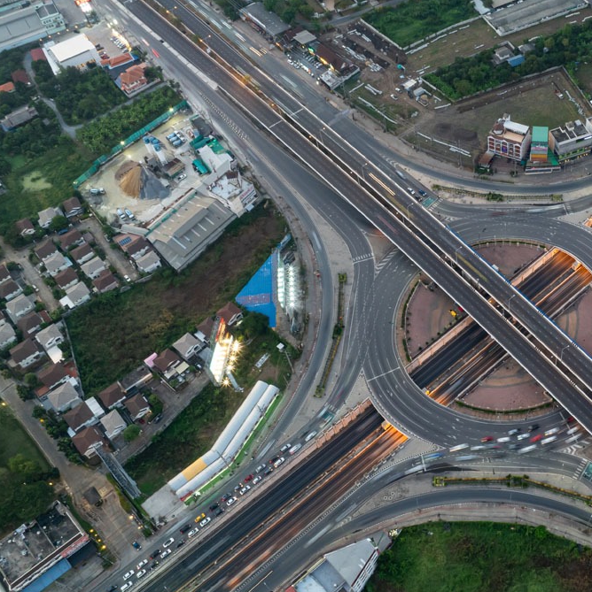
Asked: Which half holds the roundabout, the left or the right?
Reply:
right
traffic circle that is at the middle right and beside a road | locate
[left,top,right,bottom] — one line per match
[356,210,592,461]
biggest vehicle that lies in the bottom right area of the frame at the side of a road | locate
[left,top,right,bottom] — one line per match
[446,440,472,454]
